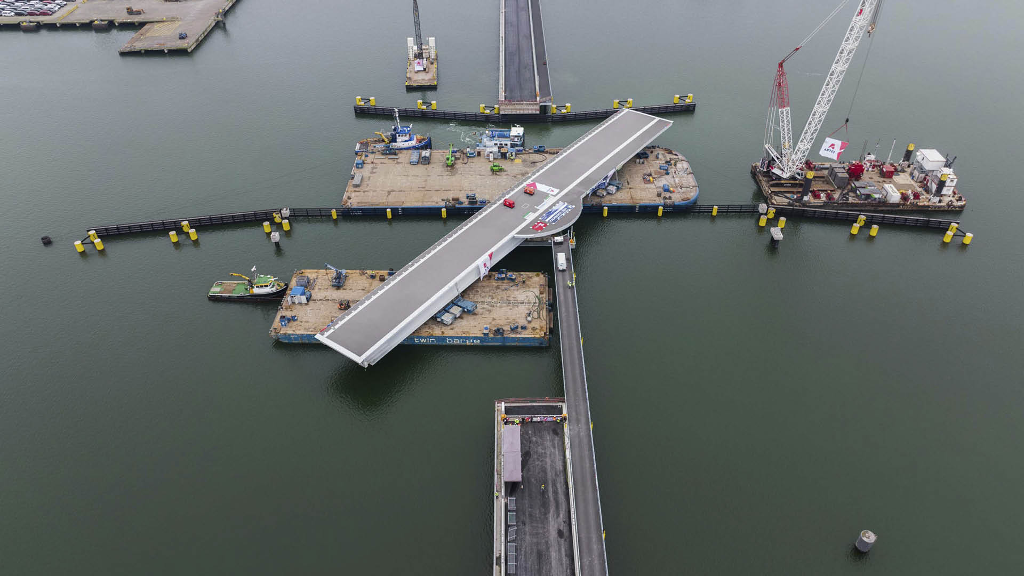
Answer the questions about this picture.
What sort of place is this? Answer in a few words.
port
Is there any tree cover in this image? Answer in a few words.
No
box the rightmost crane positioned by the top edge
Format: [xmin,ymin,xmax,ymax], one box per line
[752,0,887,187]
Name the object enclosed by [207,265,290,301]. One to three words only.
boat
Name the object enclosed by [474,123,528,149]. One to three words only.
boat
